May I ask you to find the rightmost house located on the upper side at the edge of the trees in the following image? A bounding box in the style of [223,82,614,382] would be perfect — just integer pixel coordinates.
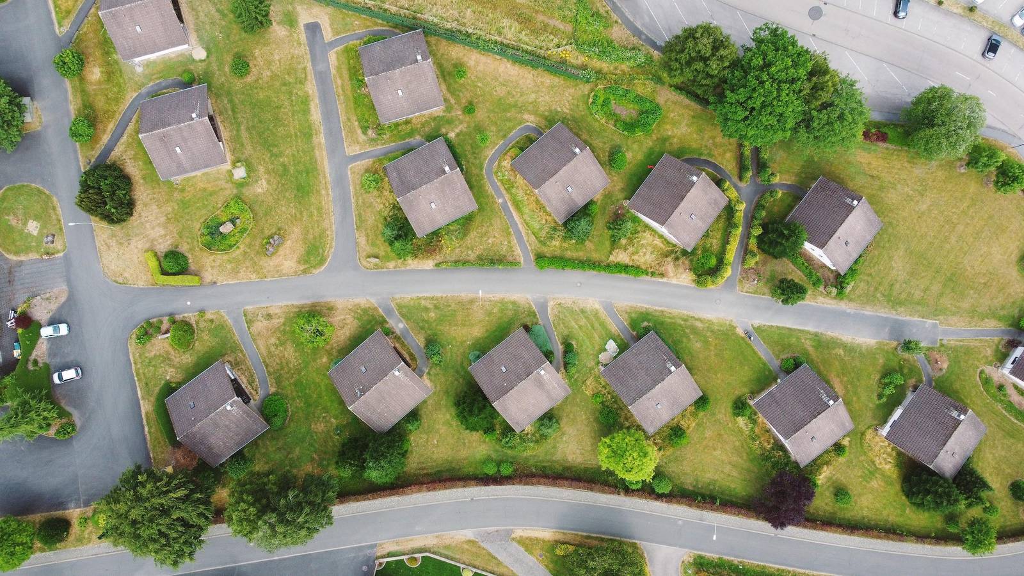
[786,175,884,274]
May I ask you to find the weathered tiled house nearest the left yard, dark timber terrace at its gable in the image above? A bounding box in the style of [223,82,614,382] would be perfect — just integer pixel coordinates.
[166,360,270,467]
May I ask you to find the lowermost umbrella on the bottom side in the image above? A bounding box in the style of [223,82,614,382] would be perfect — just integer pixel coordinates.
[599,351,613,365]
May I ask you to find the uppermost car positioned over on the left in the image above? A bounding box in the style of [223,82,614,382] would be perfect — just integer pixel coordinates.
[39,323,71,337]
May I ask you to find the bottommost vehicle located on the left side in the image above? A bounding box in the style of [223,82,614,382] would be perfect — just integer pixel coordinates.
[53,368,83,384]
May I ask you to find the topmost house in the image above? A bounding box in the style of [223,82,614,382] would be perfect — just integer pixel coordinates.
[97,0,193,62]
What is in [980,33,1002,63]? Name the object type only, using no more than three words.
car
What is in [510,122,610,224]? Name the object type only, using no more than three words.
house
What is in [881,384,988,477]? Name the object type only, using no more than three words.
house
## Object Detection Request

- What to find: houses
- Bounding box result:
[138,84,231,180]
[166,360,270,467]
[383,137,478,238]
[97,0,193,62]
[751,363,855,467]
[998,336,1024,390]
[329,329,433,432]
[627,153,729,253]
[601,331,704,436]
[510,122,610,224]
[359,29,445,124]
[786,175,884,274]
[881,384,988,477]
[469,327,571,432]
